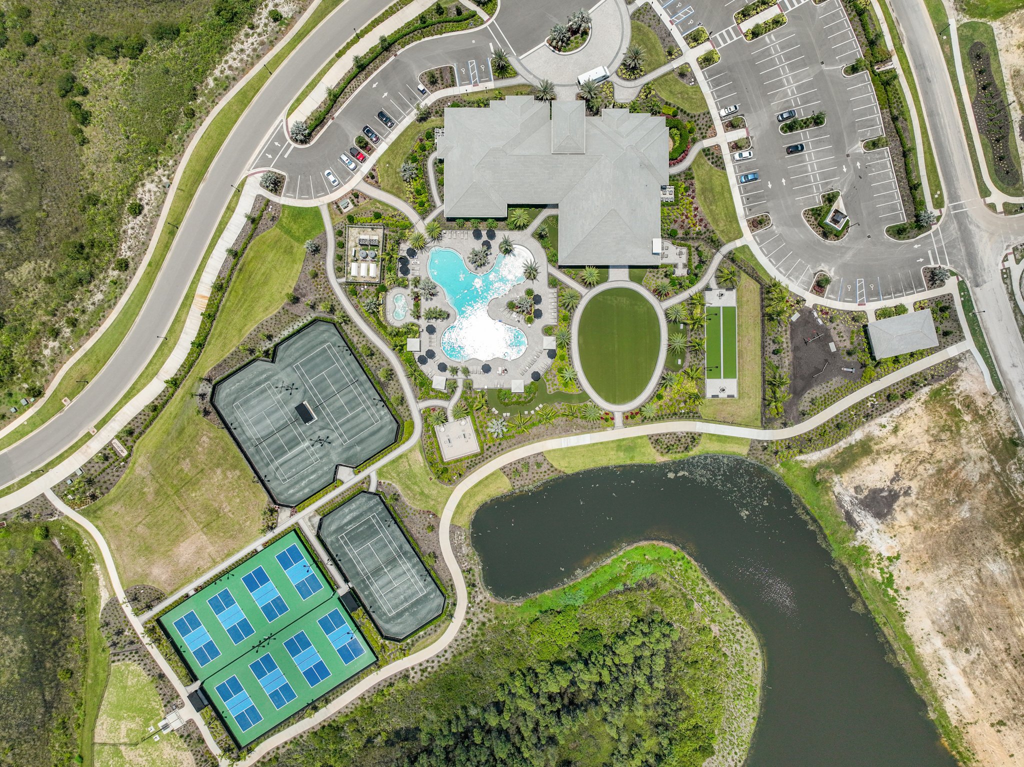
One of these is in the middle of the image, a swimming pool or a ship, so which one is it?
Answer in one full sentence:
It is a swimming pool that can be seen in the middle of the image.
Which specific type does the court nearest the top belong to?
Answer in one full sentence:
The court nearest the top is a tennis court.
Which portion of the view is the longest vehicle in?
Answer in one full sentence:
The longest vehicle appears toward the top of the photo.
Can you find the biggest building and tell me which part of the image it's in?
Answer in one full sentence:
Look in the top portion of the view to spot the biggest building.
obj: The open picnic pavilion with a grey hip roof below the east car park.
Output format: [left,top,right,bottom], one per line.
[864,309,939,359]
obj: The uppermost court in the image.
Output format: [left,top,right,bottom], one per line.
[215,320,397,505]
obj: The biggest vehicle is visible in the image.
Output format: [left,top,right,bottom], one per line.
[575,65,611,89]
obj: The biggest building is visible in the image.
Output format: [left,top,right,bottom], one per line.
[437,95,669,265]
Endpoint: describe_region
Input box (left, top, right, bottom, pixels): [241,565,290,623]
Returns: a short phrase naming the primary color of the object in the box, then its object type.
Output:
blue sports court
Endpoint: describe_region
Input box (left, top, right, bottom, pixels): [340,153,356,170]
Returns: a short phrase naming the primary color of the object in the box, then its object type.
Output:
white car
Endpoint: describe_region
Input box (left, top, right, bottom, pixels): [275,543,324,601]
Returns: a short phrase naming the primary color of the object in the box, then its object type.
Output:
blue sports court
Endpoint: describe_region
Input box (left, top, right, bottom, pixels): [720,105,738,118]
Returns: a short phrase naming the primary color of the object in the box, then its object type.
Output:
white vehicle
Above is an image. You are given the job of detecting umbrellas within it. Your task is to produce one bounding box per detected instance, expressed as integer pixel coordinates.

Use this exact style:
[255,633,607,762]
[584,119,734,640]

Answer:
[438,363,448,373]
[533,309,543,318]
[473,229,482,239]
[486,230,496,239]
[546,349,557,359]
[417,354,427,364]
[407,247,417,257]
[481,364,491,374]
[531,371,541,381]
[426,324,436,334]
[399,258,409,267]
[533,294,542,304]
[425,349,434,359]
[482,241,491,251]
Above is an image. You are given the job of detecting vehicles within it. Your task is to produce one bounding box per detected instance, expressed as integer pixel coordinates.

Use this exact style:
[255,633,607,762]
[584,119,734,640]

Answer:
[575,65,611,89]
[776,110,796,122]
[362,126,380,144]
[417,83,426,95]
[739,173,759,183]
[350,147,366,163]
[324,170,340,188]
[376,111,394,128]
[785,144,803,155]
[733,152,753,162]
[720,105,738,118]
[340,153,356,170]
